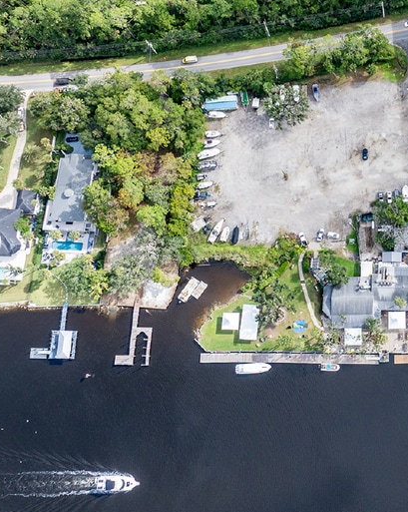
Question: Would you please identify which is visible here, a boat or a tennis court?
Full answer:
Looking from above, you can make out a boat.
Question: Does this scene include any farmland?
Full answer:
No, there's no farmland in this view.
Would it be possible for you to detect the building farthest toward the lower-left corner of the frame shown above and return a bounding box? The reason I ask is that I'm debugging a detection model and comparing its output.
[30,308,81,359]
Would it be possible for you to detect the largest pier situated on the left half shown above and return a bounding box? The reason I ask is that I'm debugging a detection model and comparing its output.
[114,305,155,366]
